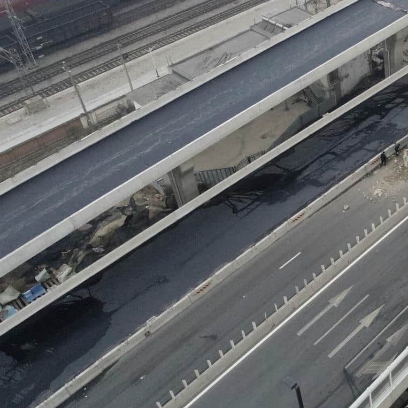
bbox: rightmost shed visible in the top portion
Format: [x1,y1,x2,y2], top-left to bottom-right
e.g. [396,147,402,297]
[273,5,316,27]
